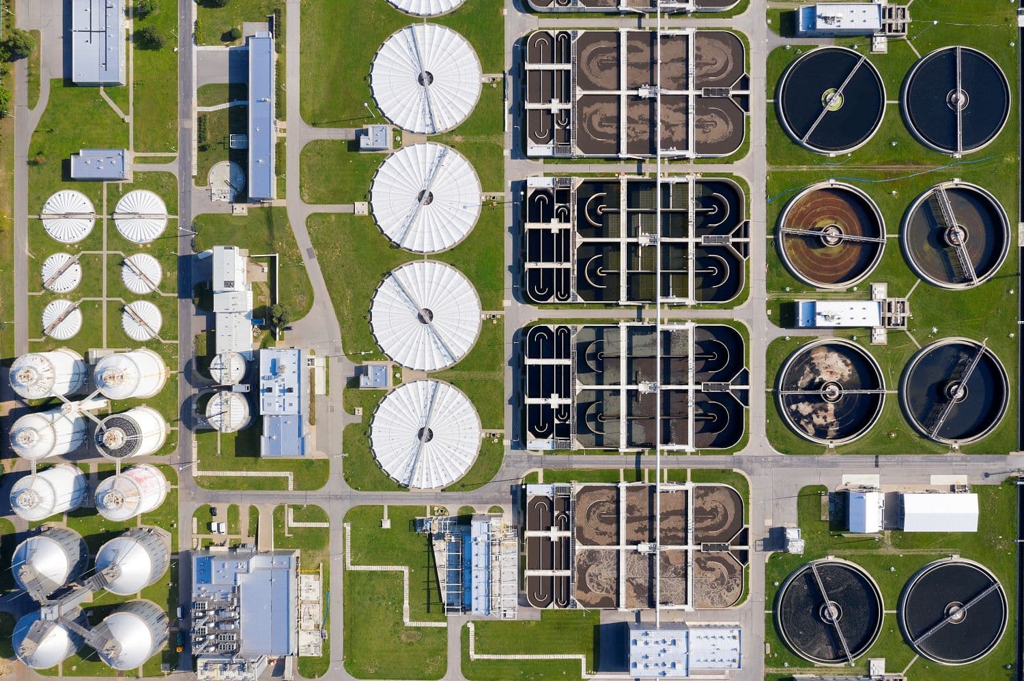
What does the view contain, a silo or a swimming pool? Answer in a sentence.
Visible in the photo is a silo.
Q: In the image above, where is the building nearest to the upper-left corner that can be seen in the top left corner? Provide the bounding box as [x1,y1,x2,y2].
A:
[72,0,126,87]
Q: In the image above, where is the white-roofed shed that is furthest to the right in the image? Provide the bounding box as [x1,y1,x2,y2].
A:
[896,493,980,532]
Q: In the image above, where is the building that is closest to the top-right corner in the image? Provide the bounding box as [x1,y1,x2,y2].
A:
[795,2,882,37]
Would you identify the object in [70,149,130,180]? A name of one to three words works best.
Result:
building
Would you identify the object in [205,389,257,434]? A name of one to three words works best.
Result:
storage tank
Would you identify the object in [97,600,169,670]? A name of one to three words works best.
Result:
silo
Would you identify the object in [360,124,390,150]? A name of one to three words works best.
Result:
shed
